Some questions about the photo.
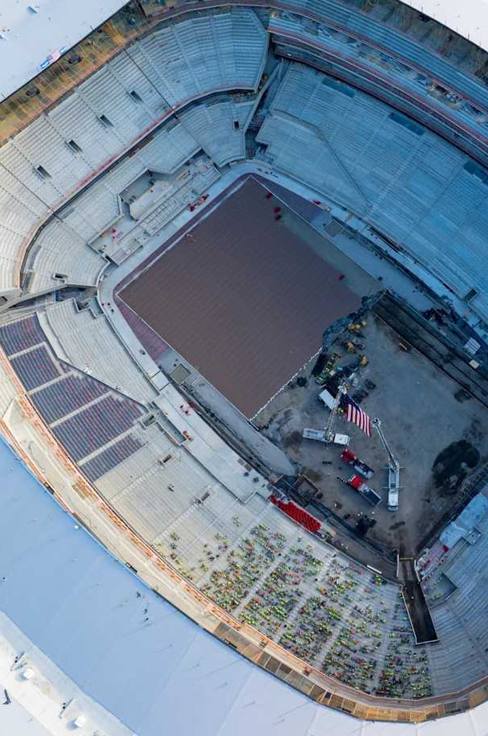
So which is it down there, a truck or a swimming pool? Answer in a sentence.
Visible in the photo is a truck.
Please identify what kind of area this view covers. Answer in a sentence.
This looks like a sports ground.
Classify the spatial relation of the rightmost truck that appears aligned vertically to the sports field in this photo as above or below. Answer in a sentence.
The rightmost truck that appears aligned vertically is found below the sports field in the photo.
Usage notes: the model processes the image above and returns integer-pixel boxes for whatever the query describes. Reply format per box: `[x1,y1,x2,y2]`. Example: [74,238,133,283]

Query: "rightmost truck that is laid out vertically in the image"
[372,417,405,510]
